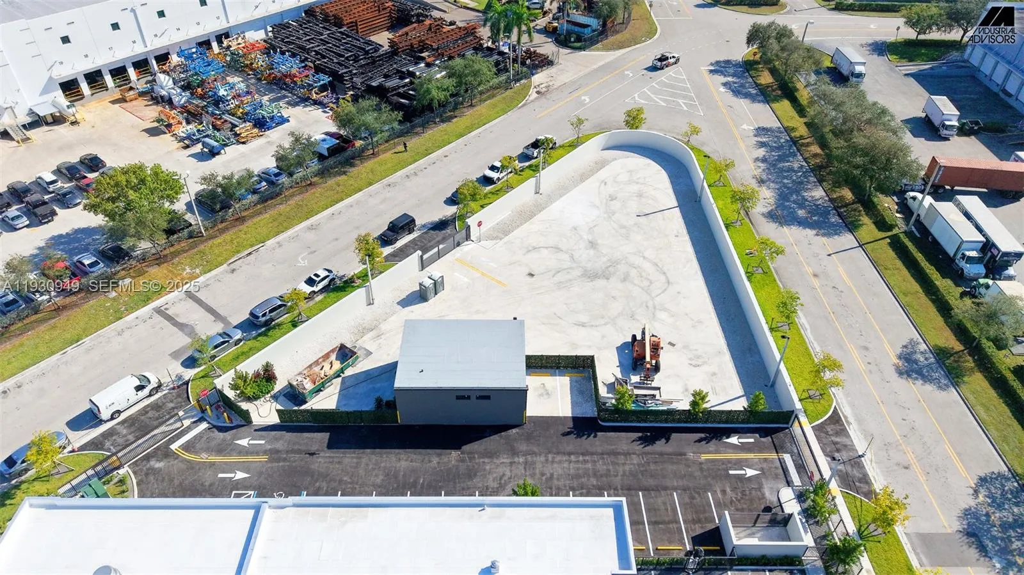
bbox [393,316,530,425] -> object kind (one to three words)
building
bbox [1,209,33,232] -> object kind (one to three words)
car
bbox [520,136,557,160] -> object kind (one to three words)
truck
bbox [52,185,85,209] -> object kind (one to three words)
car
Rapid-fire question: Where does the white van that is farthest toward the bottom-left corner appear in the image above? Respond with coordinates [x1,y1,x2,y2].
[84,371,162,426]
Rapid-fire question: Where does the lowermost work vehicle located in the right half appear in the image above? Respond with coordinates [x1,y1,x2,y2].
[630,324,665,391]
